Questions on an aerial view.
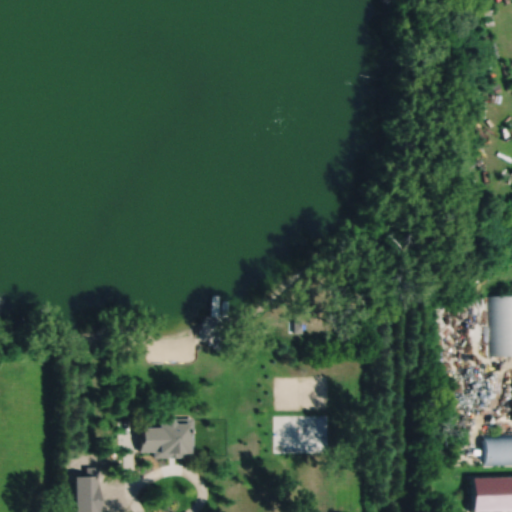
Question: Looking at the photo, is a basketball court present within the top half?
No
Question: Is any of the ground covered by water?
Yes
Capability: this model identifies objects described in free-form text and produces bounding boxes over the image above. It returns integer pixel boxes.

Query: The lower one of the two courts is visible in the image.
[272,415,327,455]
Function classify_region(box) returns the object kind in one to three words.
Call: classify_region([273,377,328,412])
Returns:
sports court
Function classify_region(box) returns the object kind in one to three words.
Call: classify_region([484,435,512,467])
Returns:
building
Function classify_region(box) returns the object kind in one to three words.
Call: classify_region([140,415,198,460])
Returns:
house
